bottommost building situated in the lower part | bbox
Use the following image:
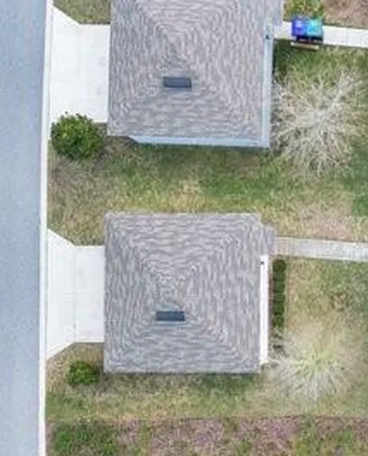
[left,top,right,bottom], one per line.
[104,211,277,374]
